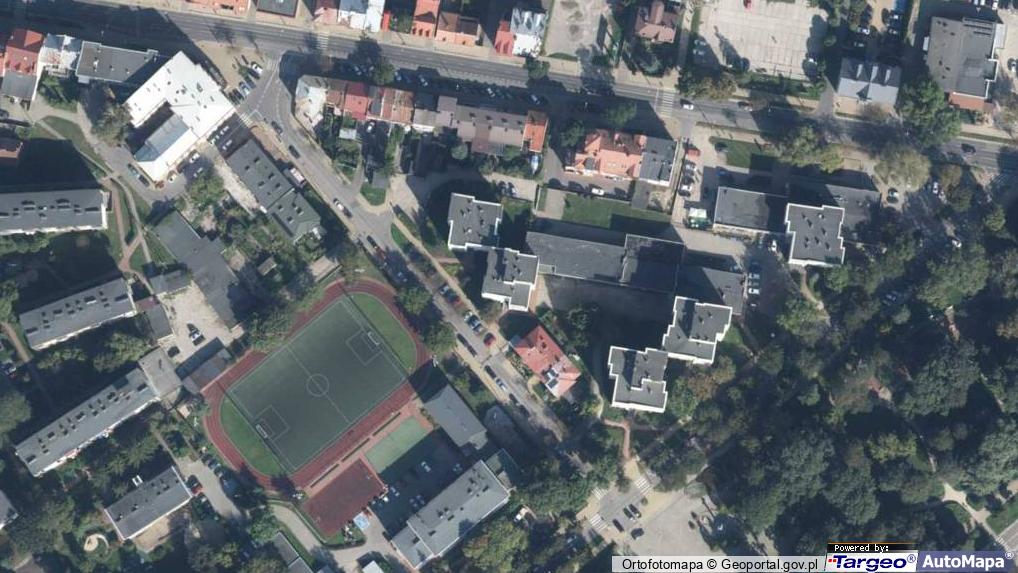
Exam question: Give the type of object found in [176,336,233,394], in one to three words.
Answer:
shed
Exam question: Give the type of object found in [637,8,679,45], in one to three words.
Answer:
house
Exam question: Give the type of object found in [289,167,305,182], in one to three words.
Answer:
vehicle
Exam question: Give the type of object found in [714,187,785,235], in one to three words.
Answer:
building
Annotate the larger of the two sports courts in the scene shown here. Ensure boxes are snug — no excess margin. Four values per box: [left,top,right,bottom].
[304,460,387,537]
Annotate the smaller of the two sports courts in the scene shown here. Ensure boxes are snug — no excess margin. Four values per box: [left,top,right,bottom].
[366,416,428,474]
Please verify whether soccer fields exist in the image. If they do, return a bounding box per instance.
[225,297,409,474]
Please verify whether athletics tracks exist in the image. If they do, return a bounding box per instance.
[202,277,434,492]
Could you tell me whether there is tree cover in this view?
Yes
